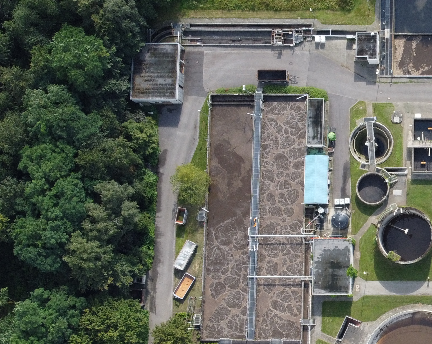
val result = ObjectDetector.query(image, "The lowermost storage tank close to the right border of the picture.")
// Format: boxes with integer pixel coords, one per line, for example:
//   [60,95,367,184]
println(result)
[376,206,432,266]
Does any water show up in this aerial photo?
Yes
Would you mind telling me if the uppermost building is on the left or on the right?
right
